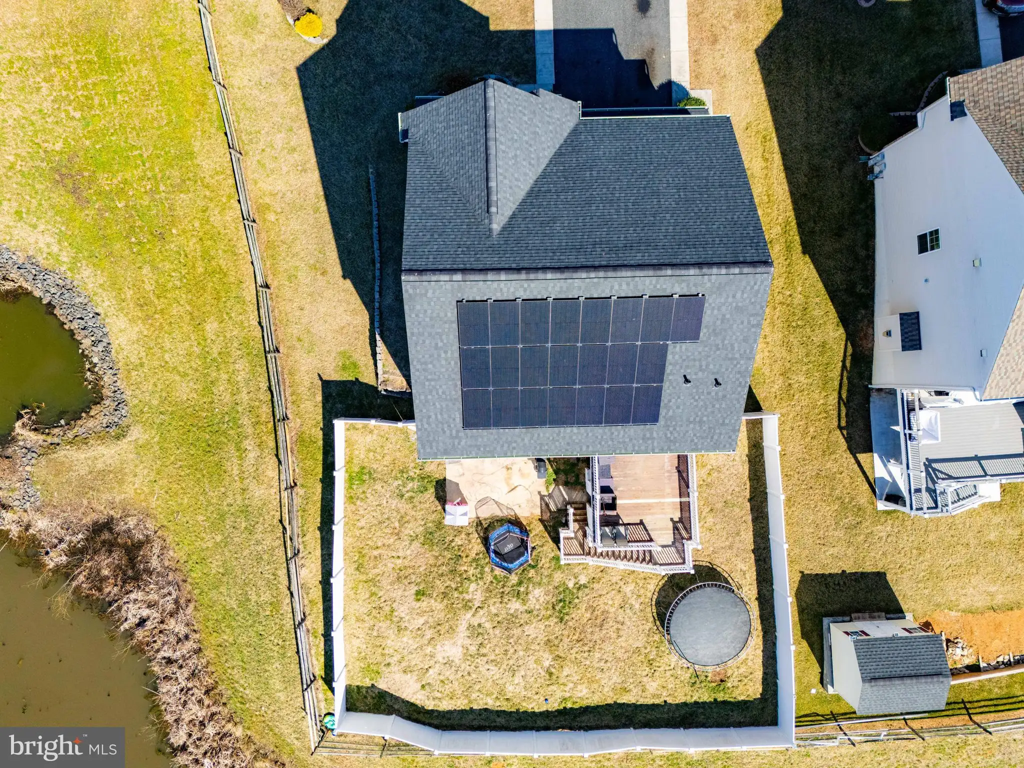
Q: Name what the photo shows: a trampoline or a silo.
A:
trampoline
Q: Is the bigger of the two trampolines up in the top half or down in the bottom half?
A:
bottom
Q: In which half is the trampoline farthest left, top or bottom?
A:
bottom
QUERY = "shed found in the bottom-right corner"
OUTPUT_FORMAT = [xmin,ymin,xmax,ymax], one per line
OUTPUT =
[823,605,955,715]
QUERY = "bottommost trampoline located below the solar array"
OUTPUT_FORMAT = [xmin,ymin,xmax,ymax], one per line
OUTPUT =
[663,578,755,671]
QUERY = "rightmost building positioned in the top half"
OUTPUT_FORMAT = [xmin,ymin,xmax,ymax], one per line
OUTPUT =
[861,61,1024,403]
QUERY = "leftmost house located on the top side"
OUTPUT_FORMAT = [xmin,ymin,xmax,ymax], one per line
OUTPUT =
[398,78,775,462]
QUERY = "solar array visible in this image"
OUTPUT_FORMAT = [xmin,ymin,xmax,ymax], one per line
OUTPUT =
[457,293,707,430]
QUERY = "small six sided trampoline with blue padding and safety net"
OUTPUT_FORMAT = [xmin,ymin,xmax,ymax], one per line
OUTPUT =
[487,522,530,578]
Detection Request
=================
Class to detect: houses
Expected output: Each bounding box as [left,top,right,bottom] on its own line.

[861,61,1024,403]
[398,78,775,462]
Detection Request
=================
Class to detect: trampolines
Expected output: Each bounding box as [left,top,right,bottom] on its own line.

[663,578,755,671]
[487,522,530,578]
